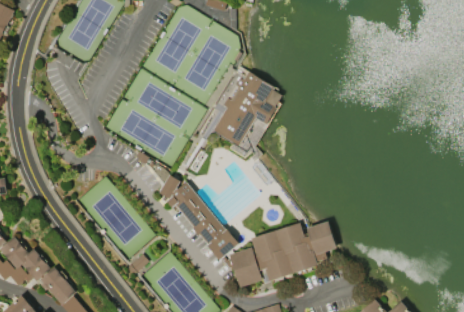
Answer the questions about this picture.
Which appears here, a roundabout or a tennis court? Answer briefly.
tennis court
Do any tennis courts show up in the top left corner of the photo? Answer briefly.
Yes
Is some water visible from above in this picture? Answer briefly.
Yes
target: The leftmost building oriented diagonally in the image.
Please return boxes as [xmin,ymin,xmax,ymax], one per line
[0,256,30,288]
